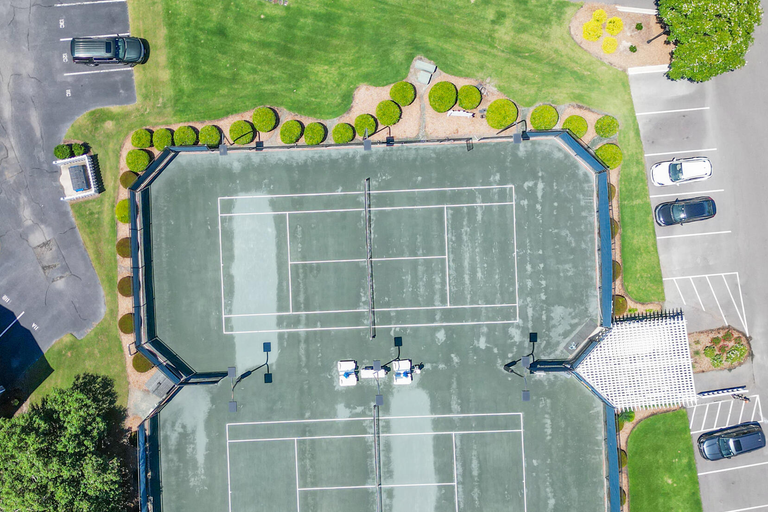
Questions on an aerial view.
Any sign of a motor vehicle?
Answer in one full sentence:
Yes, you can see a motor vehicle in this photo.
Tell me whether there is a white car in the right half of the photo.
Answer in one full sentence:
Yes, looking in the right half of the photo, one can make out a white car.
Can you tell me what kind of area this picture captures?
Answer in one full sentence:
This image shows a sports ground.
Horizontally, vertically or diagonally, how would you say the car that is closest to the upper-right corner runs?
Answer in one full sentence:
In this picture, the car that is closest to the upper-right corner lies horizontally.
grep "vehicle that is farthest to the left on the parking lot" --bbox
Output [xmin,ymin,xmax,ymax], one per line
[70,33,144,67]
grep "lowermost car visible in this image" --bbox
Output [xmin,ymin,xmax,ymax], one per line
[694,423,767,460]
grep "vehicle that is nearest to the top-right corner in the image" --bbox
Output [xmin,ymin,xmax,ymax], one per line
[648,157,711,186]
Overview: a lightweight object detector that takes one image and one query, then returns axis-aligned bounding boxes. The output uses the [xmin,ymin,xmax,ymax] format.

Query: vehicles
[648,157,711,186]
[70,33,144,67]
[694,423,767,460]
[651,198,716,227]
